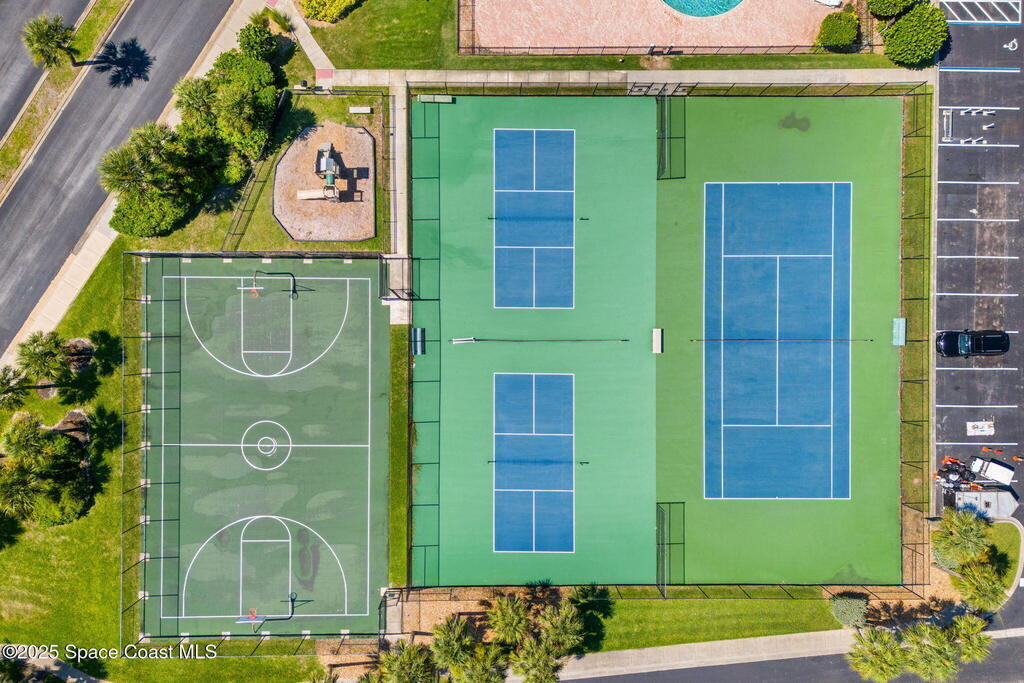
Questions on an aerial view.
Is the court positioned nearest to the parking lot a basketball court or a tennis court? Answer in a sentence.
It looks like the court positioned nearest to the parking lot is a tennis court.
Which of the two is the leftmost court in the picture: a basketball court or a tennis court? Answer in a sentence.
The leftmost court appears to be a basketball court.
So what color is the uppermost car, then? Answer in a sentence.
From above, the uppermost car appears black.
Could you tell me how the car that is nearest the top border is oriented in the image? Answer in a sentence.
In this picture, the car that is nearest the top border lies from left to right.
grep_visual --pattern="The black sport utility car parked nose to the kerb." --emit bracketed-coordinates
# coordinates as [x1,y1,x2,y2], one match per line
[936,329,1008,360]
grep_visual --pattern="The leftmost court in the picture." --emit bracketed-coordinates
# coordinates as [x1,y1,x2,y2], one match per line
[140,258,390,640]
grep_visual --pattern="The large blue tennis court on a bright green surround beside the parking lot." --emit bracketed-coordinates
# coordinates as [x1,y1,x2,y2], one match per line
[657,96,901,585]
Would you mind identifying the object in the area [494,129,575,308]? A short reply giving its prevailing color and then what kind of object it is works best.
blue sports court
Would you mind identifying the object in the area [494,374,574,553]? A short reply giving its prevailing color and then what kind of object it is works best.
blue sports court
